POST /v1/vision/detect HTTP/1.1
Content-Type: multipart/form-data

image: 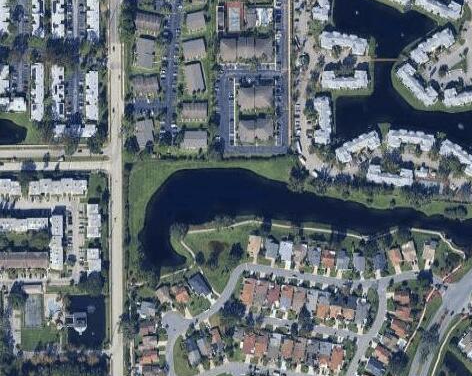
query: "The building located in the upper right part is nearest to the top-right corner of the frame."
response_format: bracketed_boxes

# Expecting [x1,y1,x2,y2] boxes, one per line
[414,0,464,18]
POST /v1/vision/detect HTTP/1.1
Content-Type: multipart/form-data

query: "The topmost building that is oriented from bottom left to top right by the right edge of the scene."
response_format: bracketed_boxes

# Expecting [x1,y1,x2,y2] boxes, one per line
[409,27,456,64]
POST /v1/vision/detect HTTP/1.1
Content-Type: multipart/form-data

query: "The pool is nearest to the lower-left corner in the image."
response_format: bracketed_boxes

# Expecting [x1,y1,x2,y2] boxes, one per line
[45,294,64,330]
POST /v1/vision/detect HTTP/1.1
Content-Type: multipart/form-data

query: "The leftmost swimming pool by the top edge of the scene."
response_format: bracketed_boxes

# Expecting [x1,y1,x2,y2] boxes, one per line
[257,8,273,26]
